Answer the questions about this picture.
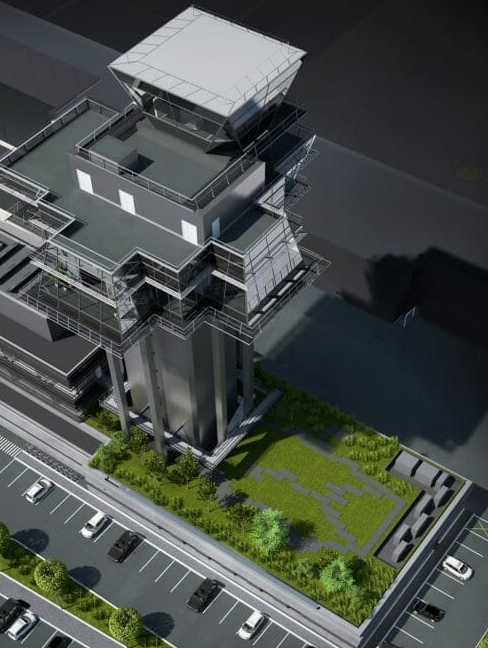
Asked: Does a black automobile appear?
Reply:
Yes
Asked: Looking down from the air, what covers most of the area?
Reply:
buildings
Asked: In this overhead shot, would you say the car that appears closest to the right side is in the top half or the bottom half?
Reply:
bottom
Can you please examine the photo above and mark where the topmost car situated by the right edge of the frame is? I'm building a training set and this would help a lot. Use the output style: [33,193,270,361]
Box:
[439,555,474,582]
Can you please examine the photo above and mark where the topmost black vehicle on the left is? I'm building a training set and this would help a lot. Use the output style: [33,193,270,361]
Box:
[107,528,141,563]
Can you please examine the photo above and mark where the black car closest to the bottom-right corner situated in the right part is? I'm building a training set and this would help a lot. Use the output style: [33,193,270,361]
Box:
[408,598,448,626]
